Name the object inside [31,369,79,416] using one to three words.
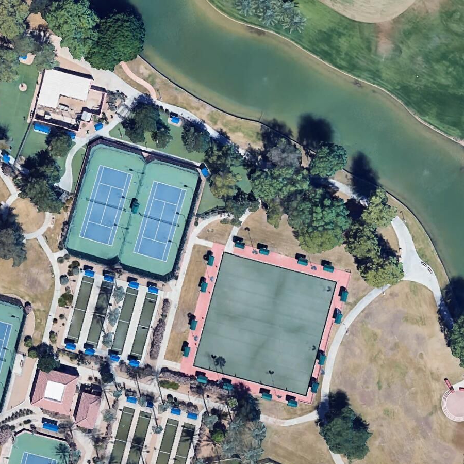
building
